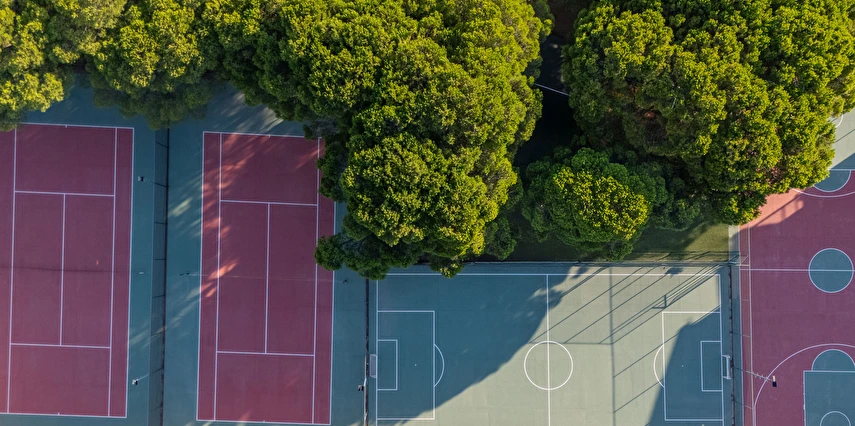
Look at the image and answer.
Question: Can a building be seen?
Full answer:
No, I can see no building in this picture.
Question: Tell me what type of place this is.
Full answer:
The picture captures a sports ground.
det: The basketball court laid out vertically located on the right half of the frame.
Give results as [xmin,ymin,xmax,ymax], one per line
[739,18,855,426]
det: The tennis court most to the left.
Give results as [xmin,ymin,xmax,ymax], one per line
[0,28,167,426]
